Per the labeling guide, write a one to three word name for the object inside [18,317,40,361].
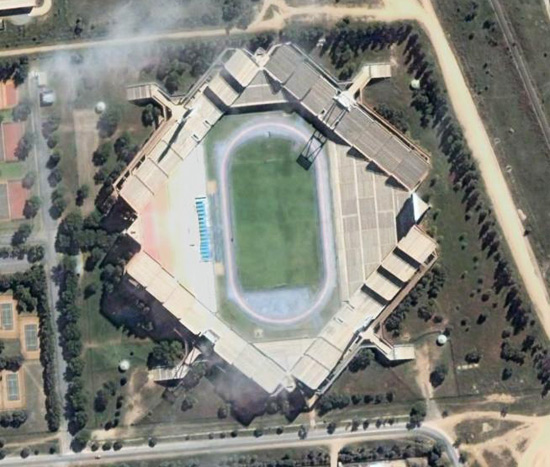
tennis court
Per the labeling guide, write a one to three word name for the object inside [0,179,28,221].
sports court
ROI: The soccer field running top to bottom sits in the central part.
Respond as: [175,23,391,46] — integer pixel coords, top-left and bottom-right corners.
[231,130,321,314]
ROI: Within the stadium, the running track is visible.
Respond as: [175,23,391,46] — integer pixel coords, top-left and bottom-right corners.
[216,115,336,329]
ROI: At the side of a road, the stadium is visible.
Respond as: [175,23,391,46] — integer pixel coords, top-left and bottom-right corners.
[111,41,438,404]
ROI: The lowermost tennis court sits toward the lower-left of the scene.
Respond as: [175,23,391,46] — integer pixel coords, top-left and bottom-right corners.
[0,367,25,411]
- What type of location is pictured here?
sports ground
